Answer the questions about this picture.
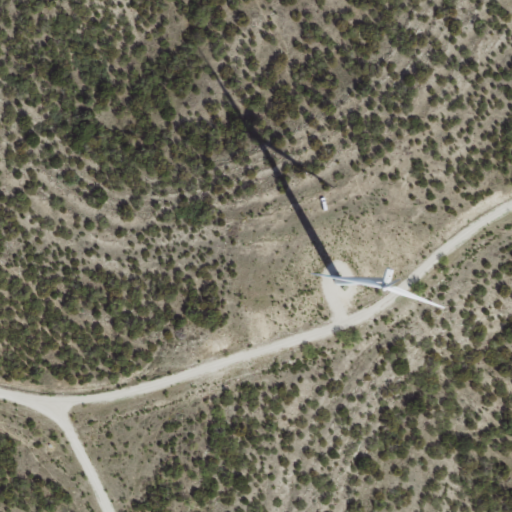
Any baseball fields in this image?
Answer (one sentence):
No, the picture doesn't show any baseball field.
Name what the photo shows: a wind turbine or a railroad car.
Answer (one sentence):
It is a wind turbine that can be seen here.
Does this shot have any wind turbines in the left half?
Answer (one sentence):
No, no wind turbine can be made out in the left half.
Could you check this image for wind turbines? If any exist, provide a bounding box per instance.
[314,268,441,309]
